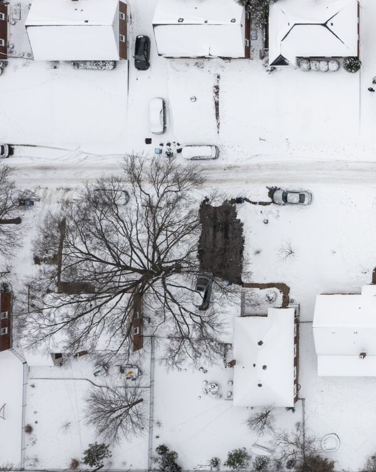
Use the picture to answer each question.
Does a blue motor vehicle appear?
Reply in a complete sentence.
No, the frame has no blue motor vehicle in it.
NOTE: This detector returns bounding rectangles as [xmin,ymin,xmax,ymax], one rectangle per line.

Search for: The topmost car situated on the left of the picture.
[133,34,152,71]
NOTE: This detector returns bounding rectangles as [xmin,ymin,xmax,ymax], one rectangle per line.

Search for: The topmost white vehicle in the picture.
[147,97,167,134]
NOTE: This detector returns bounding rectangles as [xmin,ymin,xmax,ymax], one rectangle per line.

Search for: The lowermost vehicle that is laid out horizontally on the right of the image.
[273,188,313,205]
